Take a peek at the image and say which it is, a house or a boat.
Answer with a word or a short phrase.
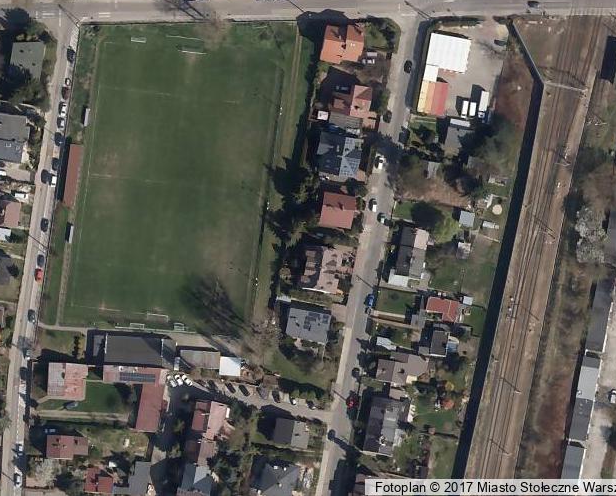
house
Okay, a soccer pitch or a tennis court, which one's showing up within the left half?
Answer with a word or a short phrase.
soccer pitch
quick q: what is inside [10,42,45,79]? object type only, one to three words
house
